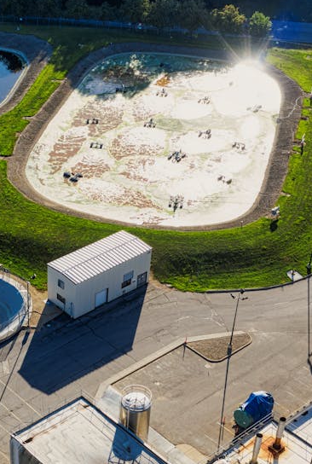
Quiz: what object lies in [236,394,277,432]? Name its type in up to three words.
storage tank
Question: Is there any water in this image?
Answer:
Yes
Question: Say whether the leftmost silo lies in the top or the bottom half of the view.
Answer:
bottom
